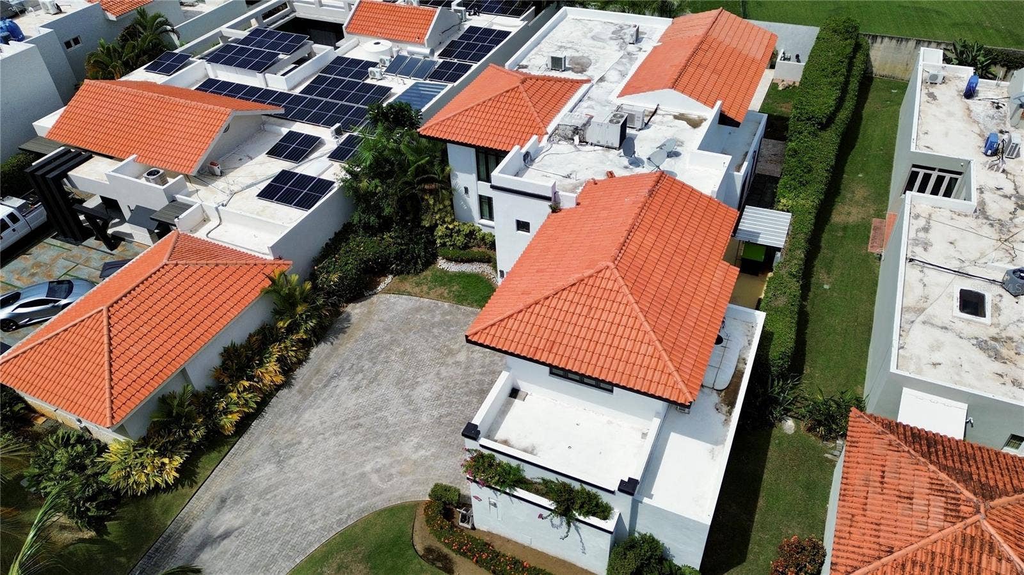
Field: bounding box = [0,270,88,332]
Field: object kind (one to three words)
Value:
car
